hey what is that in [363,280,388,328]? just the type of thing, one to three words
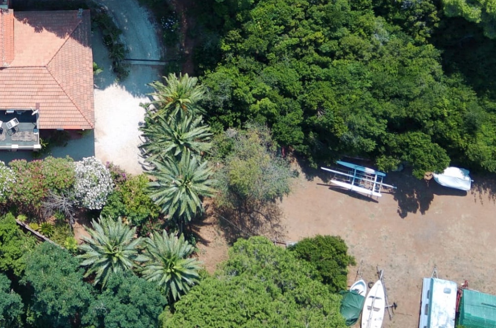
boat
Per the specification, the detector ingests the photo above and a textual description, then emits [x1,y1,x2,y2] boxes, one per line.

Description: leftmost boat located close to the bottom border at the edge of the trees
[341,279,368,327]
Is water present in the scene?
No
